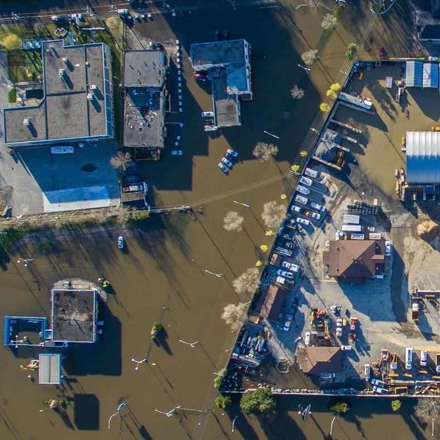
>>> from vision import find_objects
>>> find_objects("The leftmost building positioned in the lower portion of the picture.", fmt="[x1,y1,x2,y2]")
[52,289,102,342]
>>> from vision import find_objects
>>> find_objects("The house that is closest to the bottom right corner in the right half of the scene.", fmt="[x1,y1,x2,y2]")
[298,346,342,373]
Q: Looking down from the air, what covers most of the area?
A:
water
